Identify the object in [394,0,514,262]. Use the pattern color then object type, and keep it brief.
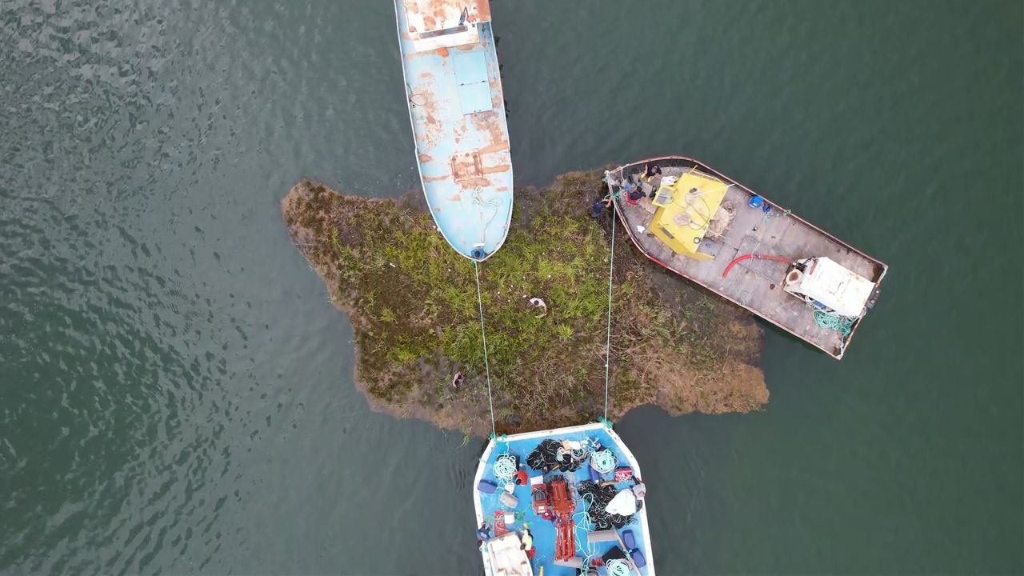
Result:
white boat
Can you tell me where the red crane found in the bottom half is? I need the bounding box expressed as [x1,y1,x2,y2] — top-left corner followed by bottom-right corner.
[530,472,578,562]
